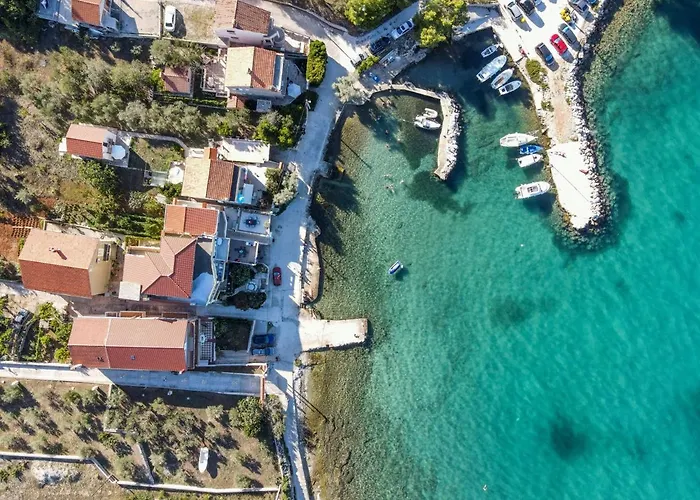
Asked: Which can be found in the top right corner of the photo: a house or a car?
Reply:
car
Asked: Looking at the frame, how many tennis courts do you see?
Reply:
0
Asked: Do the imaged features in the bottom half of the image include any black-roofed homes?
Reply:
No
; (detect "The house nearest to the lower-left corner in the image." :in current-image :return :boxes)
[68,316,122,368]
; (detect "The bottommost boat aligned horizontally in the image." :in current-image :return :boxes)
[513,181,555,198]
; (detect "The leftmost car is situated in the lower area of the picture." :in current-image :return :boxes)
[9,305,33,328]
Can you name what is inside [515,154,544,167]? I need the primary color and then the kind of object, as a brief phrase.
white boat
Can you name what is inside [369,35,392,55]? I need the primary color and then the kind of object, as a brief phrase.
black car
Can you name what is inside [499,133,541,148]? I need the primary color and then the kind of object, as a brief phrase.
white boat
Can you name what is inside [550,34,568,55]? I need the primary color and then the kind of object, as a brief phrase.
red car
